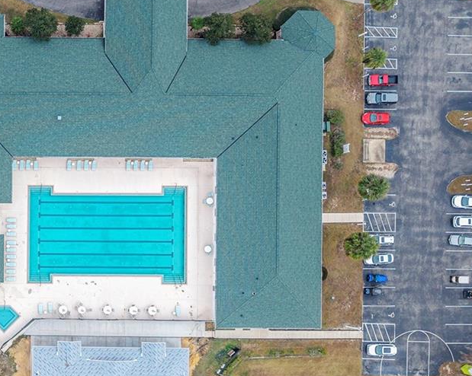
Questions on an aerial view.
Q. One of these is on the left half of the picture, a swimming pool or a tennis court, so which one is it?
swimming pool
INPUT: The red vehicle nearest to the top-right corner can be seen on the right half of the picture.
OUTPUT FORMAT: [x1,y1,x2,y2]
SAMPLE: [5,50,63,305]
[366,73,398,87]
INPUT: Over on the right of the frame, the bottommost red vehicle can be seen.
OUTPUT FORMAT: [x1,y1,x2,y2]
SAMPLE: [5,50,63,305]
[360,112,390,125]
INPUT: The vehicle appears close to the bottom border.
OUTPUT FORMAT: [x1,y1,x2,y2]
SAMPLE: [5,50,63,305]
[366,343,398,358]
